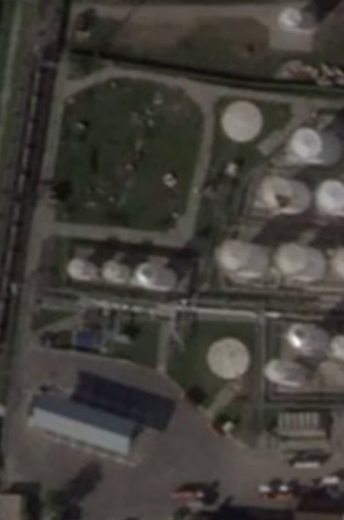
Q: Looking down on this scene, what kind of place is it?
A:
industrial area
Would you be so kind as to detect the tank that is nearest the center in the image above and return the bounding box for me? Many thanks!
[133,262,179,294]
